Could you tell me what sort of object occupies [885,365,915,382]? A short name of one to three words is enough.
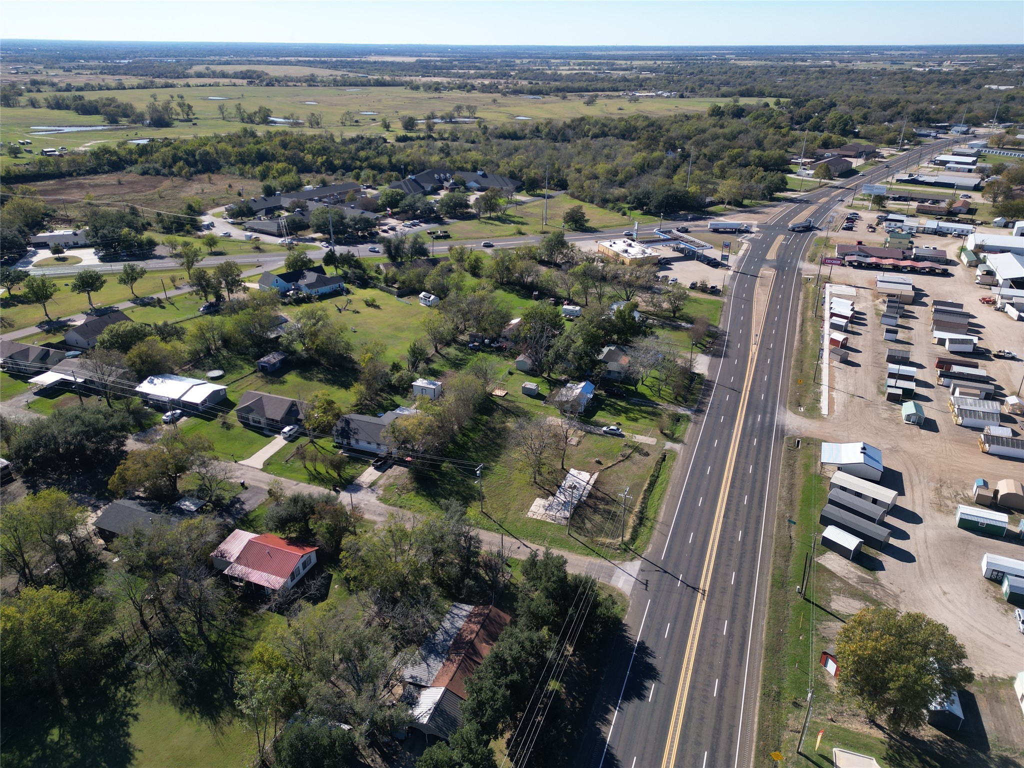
shed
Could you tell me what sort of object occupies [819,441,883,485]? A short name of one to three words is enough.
barn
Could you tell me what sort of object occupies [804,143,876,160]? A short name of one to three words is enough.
building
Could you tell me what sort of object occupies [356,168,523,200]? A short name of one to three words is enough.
house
